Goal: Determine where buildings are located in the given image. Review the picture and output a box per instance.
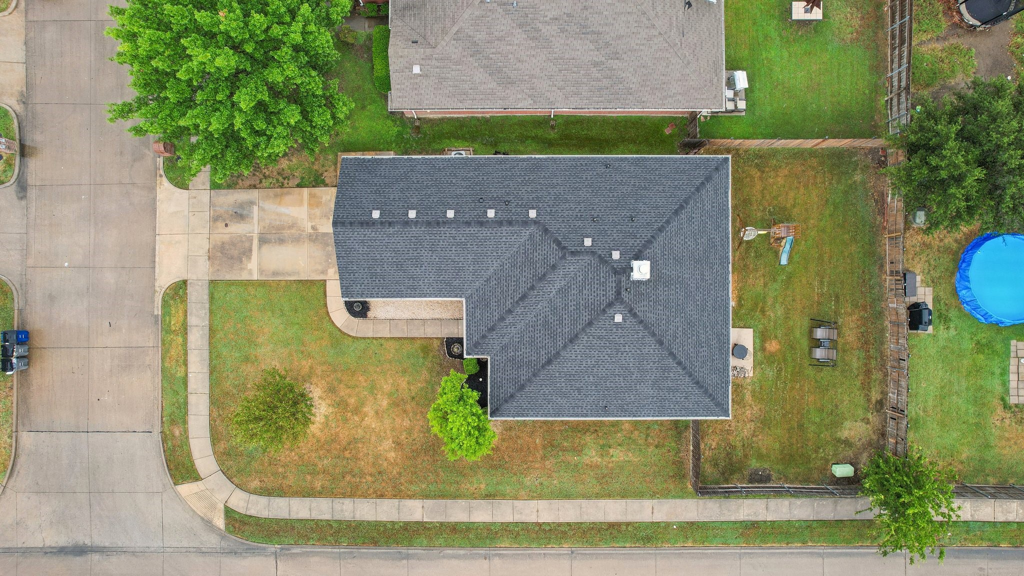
[263,0,726,122]
[332,154,733,421]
